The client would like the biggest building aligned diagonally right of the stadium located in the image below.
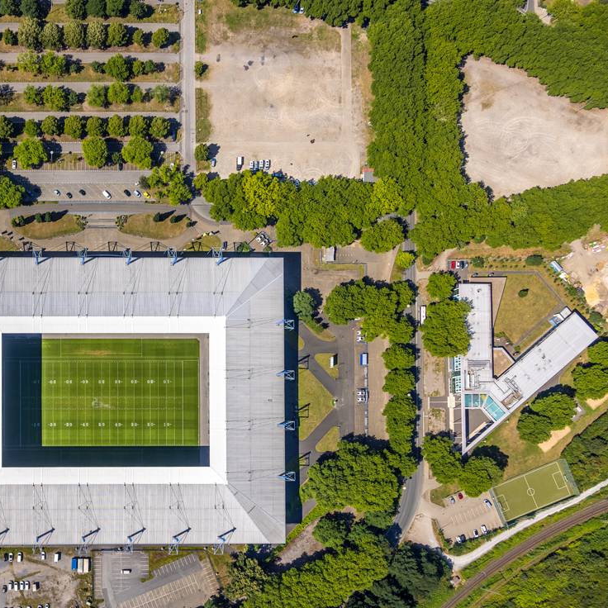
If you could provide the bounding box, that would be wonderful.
[485,310,598,414]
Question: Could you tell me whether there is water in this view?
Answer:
No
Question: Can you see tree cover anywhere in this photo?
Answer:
Yes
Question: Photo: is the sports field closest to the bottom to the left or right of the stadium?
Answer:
to its right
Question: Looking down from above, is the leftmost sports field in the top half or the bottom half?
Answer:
bottom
